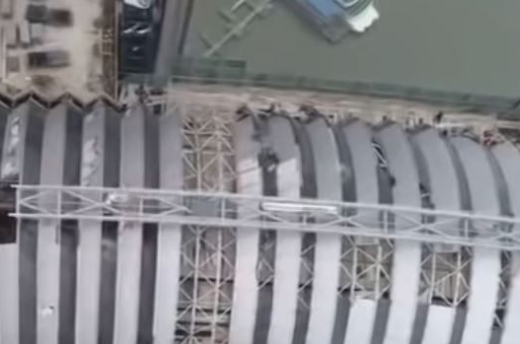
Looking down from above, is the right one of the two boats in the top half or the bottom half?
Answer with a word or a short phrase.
top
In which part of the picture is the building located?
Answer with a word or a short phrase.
top left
